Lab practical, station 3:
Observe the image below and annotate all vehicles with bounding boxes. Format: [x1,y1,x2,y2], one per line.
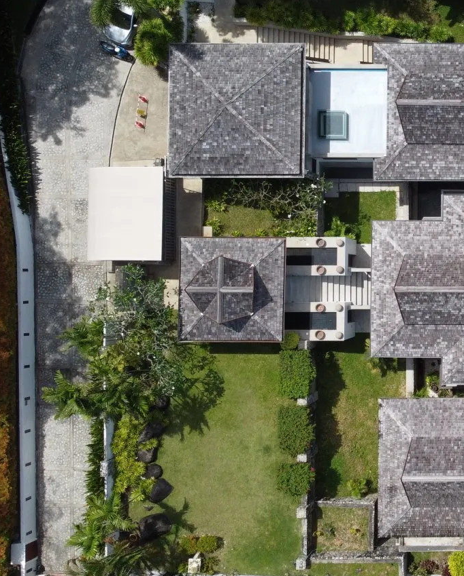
[107,0,156,44]
[98,41,130,59]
